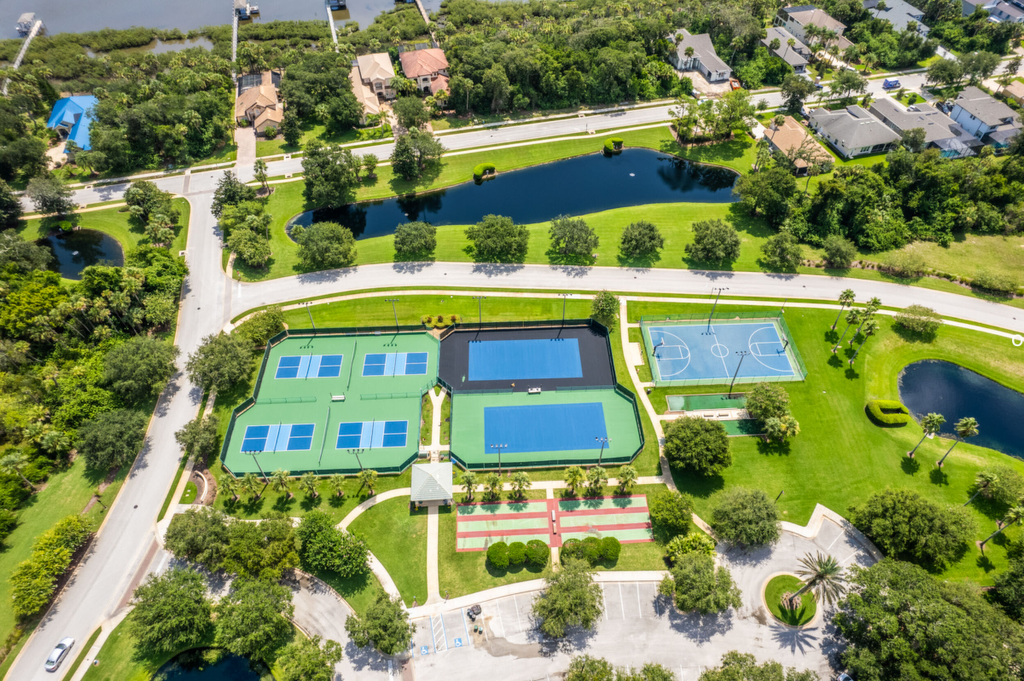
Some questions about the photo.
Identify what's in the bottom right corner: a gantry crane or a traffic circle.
traffic circle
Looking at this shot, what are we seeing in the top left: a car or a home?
home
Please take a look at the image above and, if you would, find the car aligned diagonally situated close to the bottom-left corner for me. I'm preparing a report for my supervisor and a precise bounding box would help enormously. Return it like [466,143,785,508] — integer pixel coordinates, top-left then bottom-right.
[43,637,73,672]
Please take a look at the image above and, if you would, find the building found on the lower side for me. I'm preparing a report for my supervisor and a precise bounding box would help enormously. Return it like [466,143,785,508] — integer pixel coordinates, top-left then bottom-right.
[411,462,453,508]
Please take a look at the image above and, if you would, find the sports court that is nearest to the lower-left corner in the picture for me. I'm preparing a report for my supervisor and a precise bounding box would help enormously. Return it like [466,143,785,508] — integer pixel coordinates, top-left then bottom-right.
[240,420,316,453]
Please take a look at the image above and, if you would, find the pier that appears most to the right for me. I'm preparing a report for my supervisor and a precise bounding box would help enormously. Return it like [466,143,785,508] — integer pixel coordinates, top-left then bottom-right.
[415,0,441,48]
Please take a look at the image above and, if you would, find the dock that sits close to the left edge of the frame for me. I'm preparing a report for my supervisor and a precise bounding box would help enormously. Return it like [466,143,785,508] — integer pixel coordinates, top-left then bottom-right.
[2,21,44,93]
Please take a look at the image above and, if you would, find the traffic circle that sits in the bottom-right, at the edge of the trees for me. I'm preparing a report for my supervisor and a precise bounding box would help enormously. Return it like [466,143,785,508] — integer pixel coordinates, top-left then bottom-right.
[761,572,821,629]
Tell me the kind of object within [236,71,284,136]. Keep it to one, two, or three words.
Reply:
house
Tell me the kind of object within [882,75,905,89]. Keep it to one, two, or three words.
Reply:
vehicle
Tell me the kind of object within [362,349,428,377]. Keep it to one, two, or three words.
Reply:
sports court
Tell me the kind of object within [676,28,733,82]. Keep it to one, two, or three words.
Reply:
house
